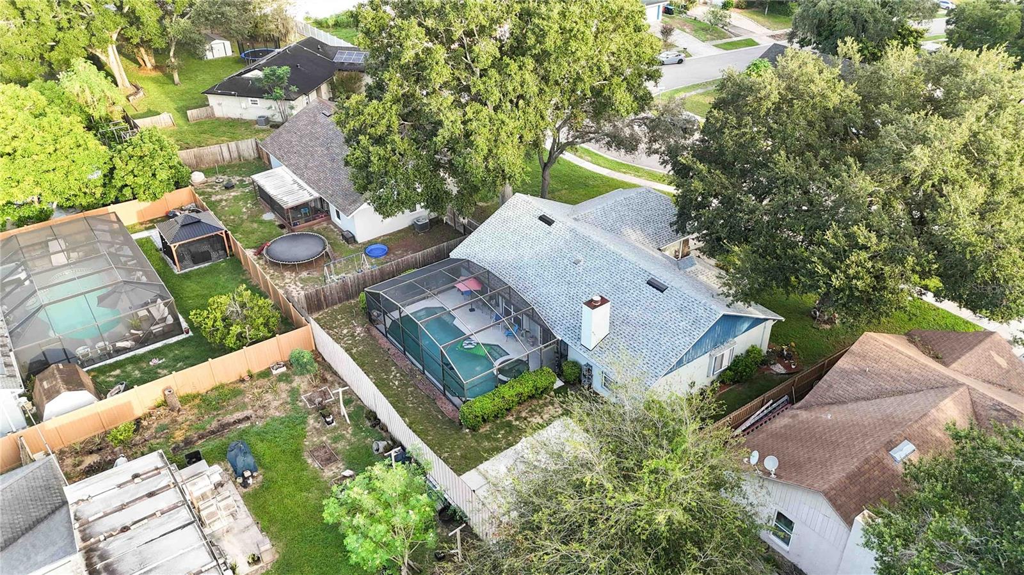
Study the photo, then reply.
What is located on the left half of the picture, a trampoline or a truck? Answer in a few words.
trampoline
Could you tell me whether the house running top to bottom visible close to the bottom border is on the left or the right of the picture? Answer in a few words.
left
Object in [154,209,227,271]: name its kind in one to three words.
gazebo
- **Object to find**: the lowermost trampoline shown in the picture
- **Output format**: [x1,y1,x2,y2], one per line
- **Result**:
[263,233,329,275]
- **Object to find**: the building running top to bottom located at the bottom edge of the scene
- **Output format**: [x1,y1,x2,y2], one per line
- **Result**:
[0,360,97,575]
